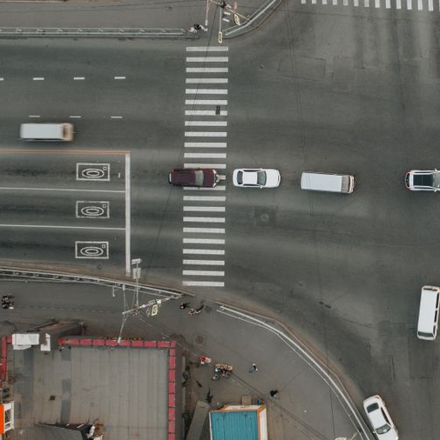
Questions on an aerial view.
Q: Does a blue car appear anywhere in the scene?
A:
No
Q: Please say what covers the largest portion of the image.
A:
paved ground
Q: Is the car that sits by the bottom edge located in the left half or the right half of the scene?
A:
right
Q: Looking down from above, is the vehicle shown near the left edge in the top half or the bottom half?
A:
top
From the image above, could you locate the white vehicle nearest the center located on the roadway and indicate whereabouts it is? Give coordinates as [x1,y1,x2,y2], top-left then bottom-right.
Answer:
[232,167,282,189]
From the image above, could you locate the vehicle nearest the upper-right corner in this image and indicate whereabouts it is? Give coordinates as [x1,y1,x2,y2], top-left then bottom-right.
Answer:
[405,169,440,192]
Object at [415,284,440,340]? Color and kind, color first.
white vehicle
